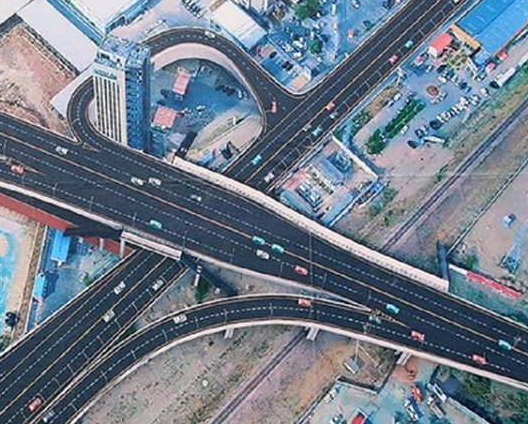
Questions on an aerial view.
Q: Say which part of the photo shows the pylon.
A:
right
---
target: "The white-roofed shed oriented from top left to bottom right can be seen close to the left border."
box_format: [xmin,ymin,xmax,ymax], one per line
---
[16,0,98,78]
